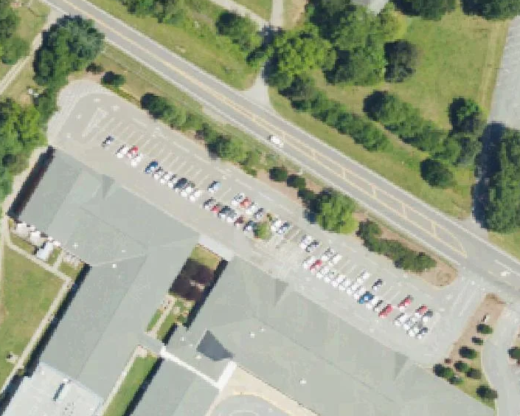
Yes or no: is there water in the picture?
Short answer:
No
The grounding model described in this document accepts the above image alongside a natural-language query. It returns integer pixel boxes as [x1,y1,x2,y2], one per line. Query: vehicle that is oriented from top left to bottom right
[266,134,282,146]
